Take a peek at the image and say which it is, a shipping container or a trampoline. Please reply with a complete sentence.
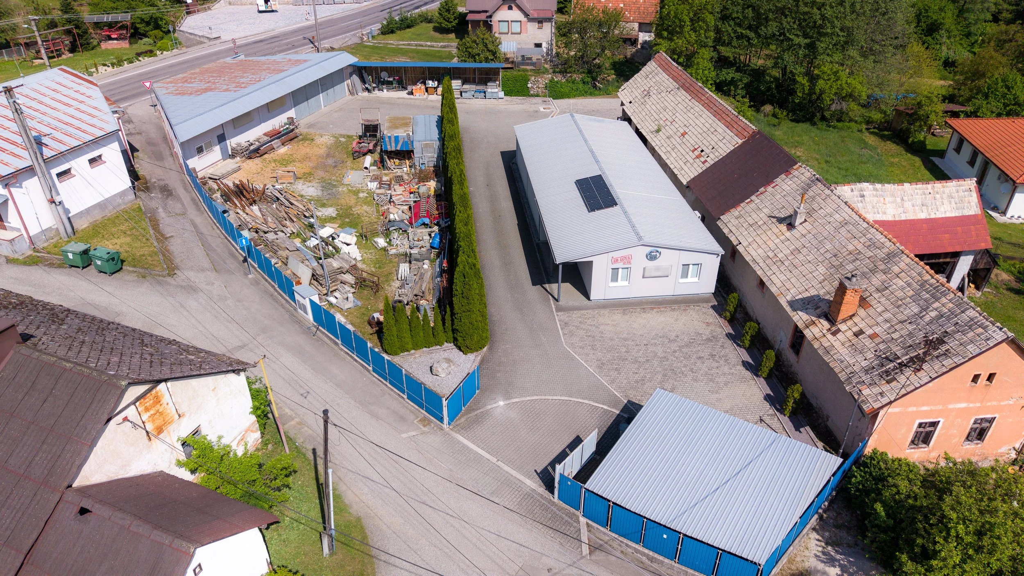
I can see a shipping container in this picture.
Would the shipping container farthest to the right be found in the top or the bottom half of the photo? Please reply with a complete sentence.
The shipping container farthest to the right sits in the top half of the picture.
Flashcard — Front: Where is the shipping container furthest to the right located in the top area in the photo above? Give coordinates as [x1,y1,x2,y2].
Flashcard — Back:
[414,110,441,164]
